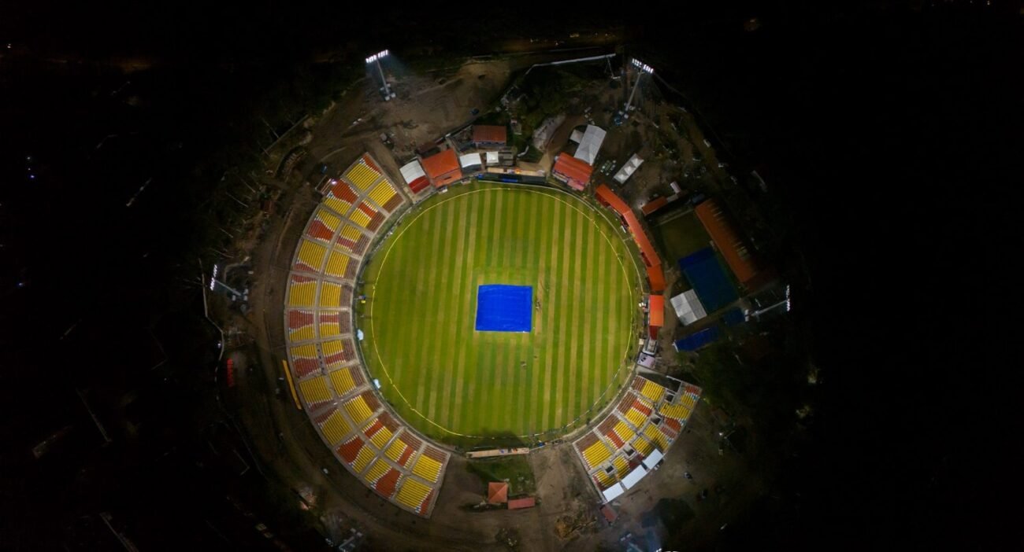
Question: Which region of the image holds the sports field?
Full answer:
The sports field appears toward the center of the photo.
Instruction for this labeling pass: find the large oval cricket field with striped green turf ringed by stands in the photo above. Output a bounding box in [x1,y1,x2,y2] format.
[357,183,644,453]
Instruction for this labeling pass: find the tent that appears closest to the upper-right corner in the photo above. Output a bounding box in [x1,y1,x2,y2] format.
[613,153,644,184]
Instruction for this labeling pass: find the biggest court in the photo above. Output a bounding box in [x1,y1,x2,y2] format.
[685,254,739,312]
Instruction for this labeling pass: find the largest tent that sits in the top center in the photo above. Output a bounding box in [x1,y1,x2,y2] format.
[574,125,606,166]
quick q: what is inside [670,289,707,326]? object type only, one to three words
barn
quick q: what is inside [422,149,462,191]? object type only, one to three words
building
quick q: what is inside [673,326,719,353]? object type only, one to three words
shed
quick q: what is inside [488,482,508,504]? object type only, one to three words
building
